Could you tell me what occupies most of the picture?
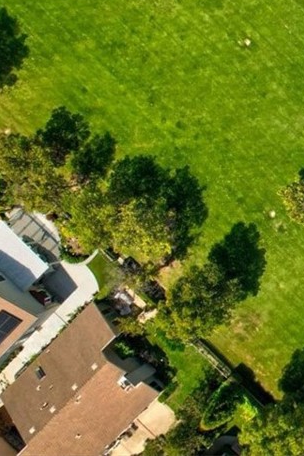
grass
